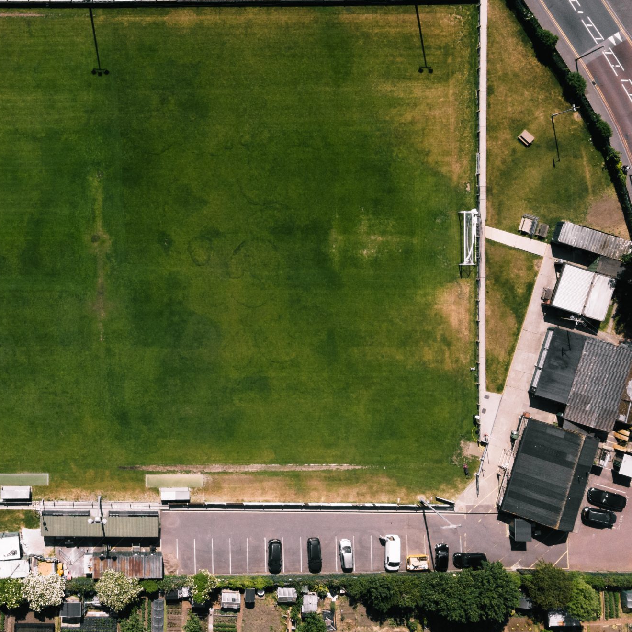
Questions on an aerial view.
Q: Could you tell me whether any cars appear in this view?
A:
Yes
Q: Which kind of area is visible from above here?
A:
sports ground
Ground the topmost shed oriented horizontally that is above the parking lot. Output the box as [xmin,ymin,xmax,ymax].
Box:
[553,221,632,261]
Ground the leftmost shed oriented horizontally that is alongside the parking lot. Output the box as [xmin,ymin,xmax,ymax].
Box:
[92,546,163,578]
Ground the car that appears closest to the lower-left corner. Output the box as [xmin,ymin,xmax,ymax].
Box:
[267,537,284,575]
